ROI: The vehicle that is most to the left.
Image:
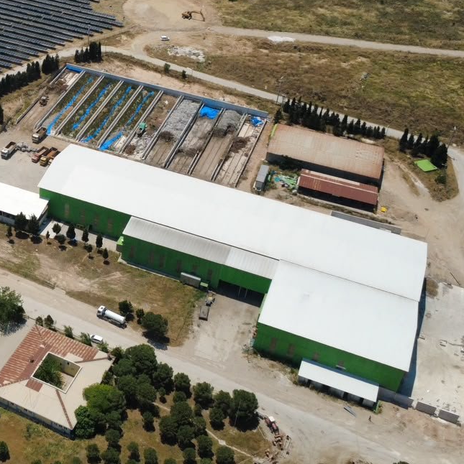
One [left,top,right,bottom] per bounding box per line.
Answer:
[2,136,22,156]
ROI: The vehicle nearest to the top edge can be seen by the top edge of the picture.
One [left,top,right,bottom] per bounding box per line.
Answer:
[183,9,210,21]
